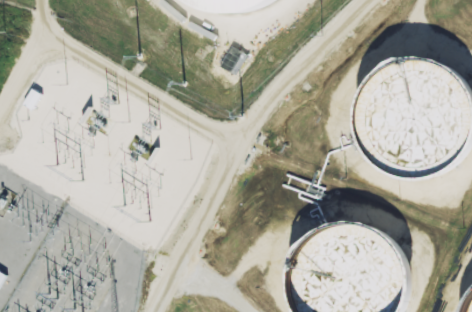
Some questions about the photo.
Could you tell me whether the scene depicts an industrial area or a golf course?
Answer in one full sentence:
What you see here is an industrial area.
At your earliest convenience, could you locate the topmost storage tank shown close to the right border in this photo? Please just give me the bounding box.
[350,54,472,180]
